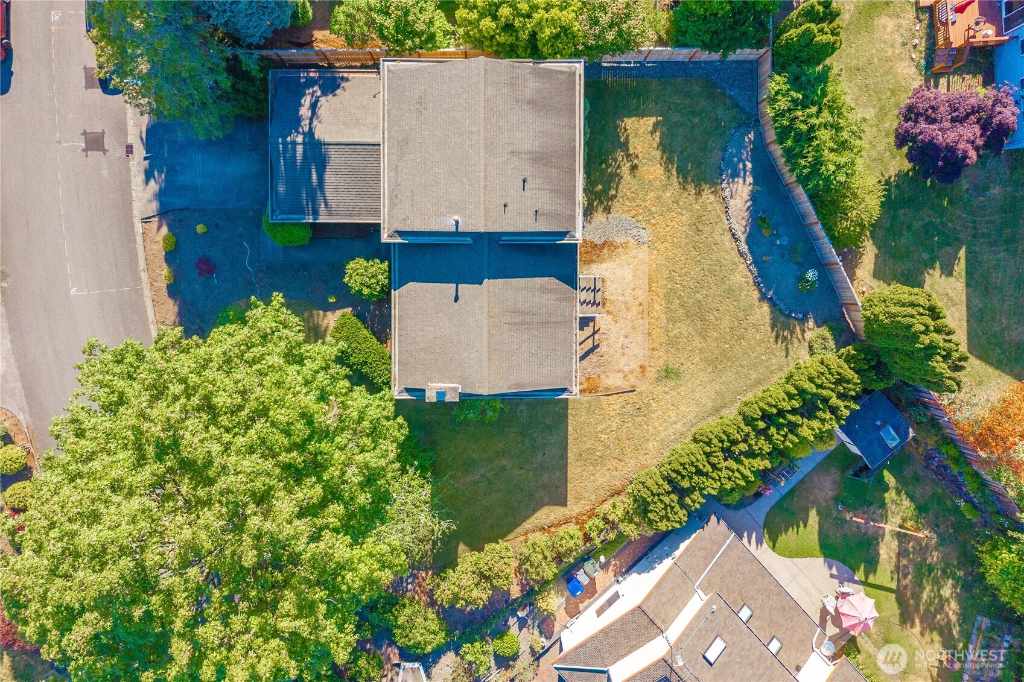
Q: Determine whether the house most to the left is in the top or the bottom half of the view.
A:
top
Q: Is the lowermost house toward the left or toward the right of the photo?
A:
right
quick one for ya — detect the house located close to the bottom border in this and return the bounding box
[549,510,872,682]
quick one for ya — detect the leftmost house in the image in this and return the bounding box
[269,58,585,401]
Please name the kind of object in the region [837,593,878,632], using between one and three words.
umbrella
